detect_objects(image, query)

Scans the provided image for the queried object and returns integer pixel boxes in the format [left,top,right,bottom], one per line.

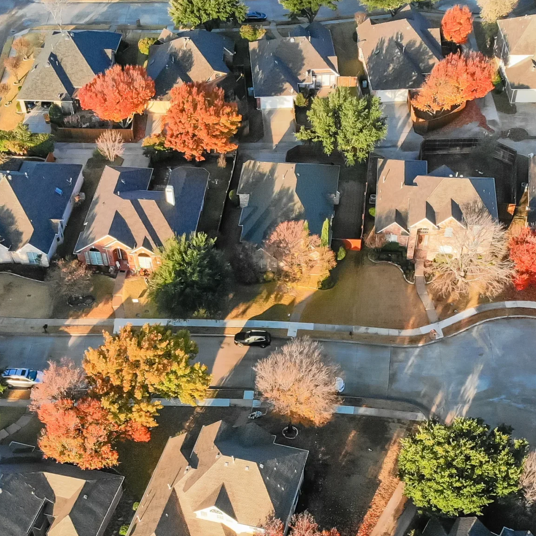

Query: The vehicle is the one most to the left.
[1,367,44,389]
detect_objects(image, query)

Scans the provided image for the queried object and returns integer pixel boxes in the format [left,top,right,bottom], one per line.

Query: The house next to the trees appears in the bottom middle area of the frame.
[125,408,311,536]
